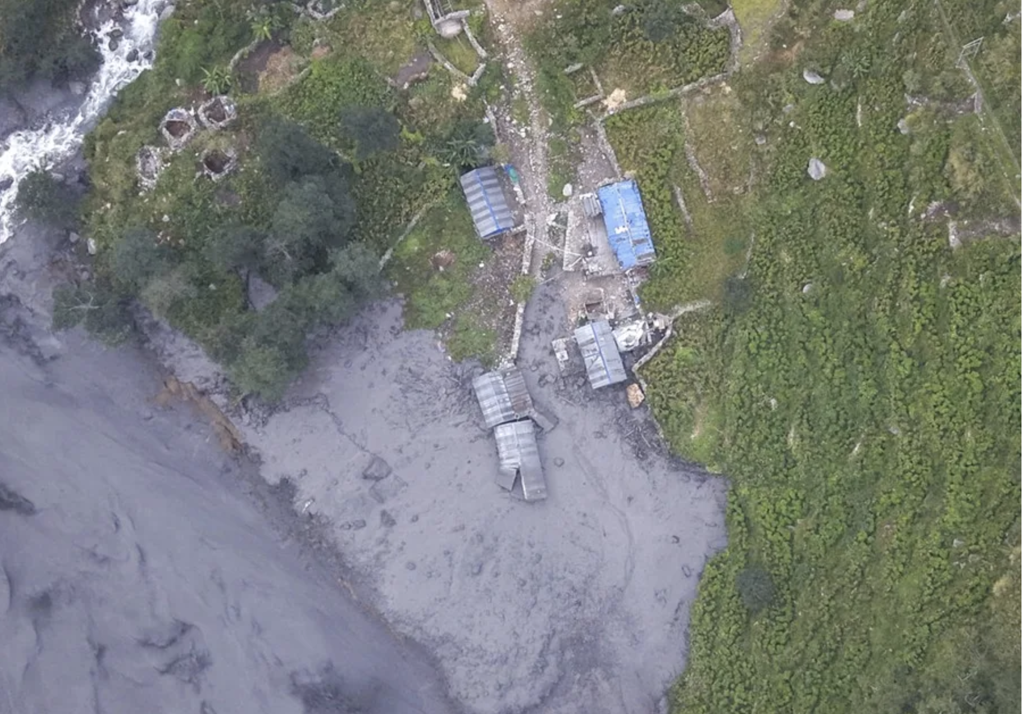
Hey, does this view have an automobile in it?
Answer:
No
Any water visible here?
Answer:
Yes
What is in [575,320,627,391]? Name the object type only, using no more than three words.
shed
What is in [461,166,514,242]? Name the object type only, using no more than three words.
shed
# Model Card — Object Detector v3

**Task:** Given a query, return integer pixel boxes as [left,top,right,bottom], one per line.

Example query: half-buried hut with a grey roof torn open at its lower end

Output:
[494,421,546,500]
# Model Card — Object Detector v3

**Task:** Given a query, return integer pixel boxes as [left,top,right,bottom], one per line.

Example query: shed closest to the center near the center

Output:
[472,369,533,429]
